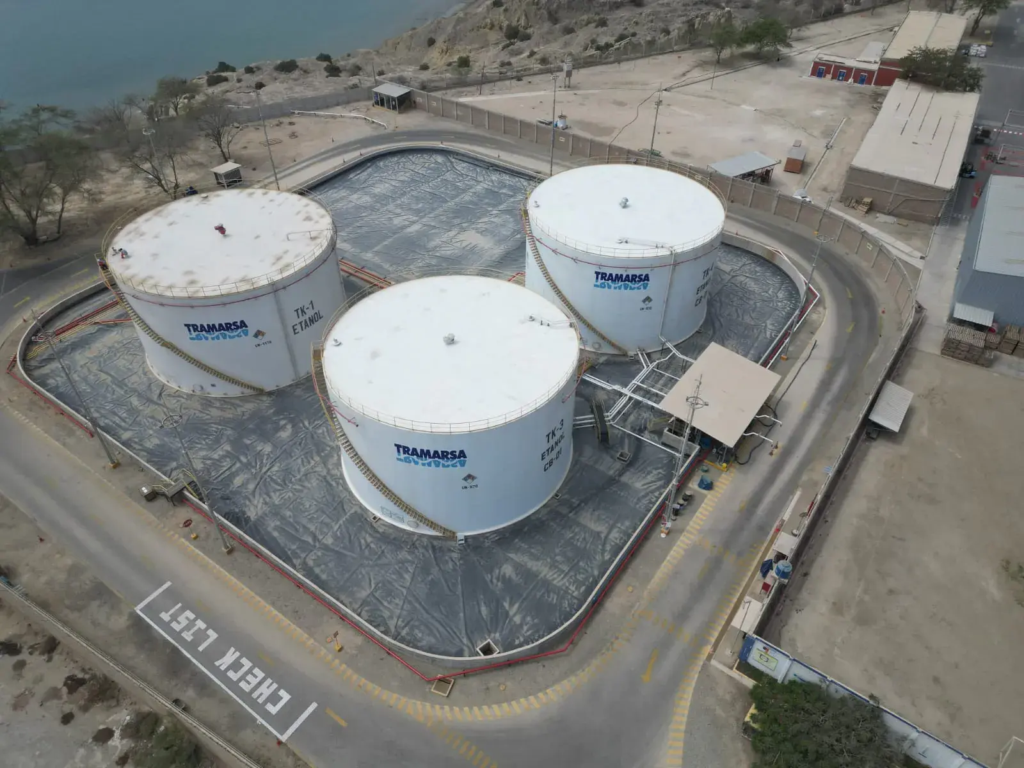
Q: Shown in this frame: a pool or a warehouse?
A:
warehouse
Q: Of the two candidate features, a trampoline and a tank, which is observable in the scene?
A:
tank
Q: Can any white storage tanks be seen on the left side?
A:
Yes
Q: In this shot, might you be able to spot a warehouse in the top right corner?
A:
Yes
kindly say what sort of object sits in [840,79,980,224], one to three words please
warehouse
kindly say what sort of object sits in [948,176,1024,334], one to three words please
building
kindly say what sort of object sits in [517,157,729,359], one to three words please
storage tank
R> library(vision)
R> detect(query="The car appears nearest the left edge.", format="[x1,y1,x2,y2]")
[792,192,819,204]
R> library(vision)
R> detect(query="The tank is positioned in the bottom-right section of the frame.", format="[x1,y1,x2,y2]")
[763,561,791,601]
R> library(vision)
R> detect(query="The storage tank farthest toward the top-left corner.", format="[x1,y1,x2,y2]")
[92,181,350,397]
